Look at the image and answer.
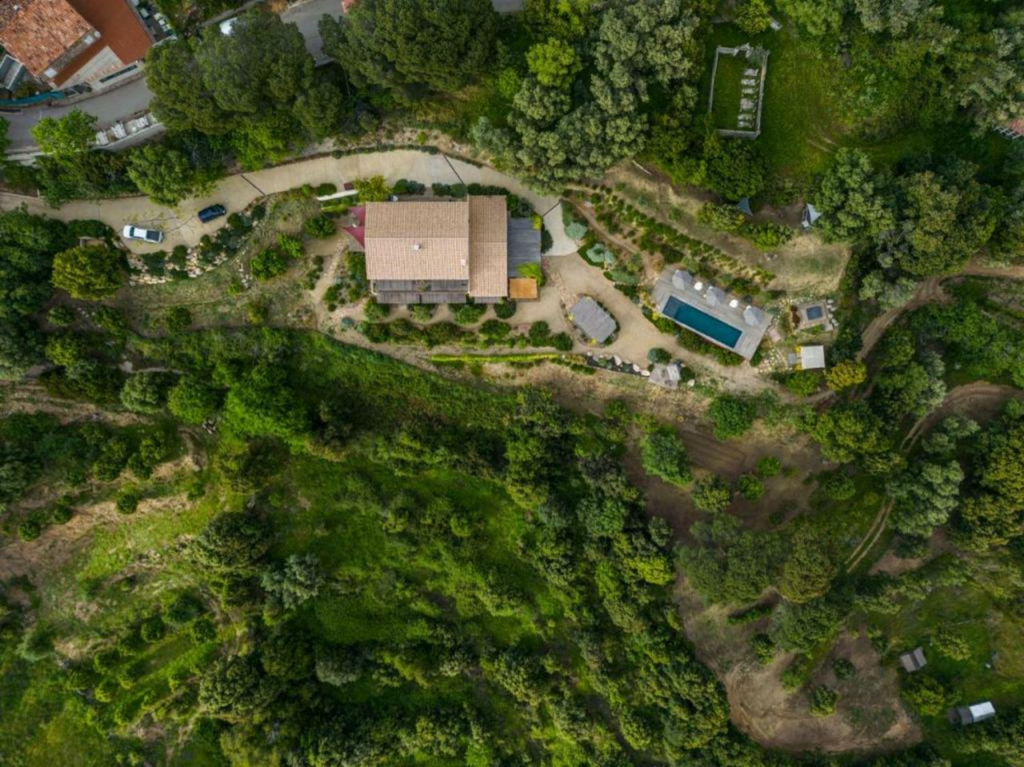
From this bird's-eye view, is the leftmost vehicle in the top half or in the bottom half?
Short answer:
top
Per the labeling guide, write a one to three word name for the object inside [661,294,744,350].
swimming pool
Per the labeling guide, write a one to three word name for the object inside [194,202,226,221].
car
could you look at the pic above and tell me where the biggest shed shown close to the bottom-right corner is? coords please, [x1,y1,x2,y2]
[895,644,926,672]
